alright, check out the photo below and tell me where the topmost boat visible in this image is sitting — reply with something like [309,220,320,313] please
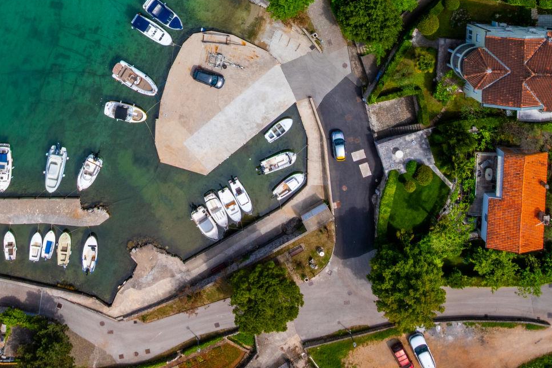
[146,0,182,30]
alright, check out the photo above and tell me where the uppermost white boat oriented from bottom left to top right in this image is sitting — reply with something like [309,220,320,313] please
[264,119,293,144]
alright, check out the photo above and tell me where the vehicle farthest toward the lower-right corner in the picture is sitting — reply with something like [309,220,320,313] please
[410,332,436,368]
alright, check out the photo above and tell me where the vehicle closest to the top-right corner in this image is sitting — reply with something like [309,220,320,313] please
[331,128,347,162]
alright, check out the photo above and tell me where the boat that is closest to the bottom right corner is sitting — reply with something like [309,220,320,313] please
[270,174,305,199]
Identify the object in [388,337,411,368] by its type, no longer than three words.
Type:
car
